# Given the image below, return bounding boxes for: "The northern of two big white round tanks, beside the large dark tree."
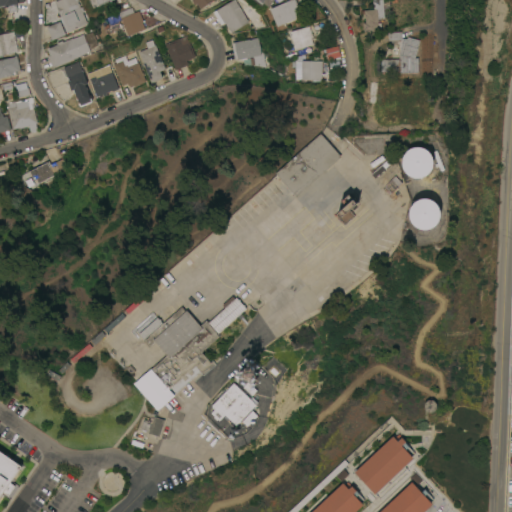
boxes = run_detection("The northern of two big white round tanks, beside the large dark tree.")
[402,146,434,180]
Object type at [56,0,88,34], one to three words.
house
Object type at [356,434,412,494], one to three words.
building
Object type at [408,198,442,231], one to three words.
storage tank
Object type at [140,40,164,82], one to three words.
house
